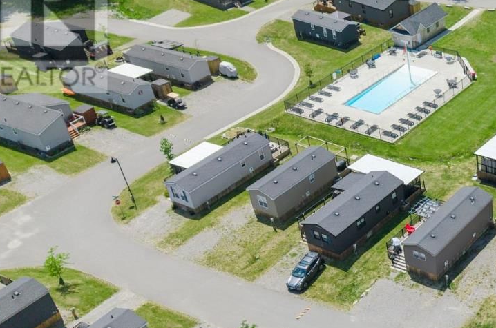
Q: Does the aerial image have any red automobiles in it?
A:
No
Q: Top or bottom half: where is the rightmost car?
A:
bottom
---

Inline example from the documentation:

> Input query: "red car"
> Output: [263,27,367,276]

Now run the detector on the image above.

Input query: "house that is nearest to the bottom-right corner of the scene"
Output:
[402,188,494,281]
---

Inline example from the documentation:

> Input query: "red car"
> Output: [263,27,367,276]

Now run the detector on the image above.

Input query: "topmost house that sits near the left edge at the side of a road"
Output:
[10,20,104,71]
